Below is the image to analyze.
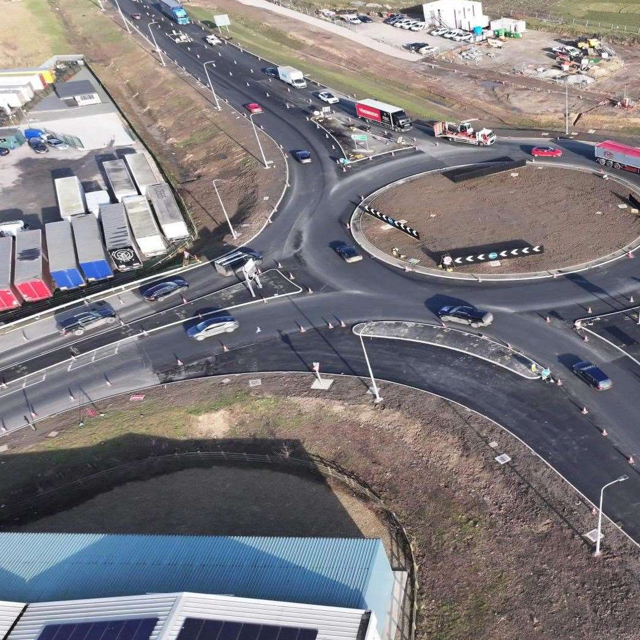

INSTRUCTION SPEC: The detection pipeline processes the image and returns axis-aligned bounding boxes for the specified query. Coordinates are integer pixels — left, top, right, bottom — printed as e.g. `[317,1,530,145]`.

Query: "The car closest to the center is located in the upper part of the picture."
[332,240,363,261]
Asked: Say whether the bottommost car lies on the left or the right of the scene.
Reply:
right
